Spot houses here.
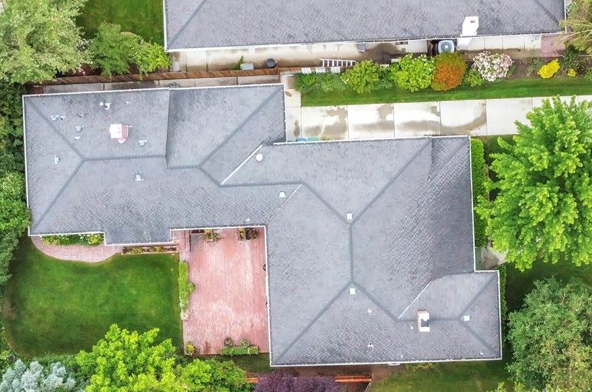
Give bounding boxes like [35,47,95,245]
[162,0,567,54]
[21,81,504,367]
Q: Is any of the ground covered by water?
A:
No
